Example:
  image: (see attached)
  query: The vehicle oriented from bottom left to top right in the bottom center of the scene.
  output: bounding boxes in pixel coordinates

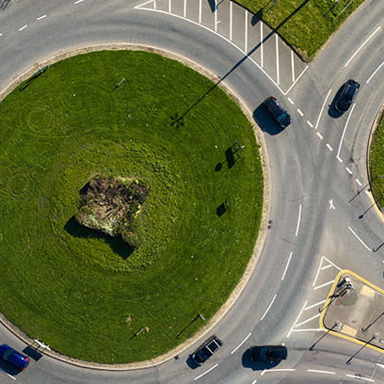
[188,331,224,368]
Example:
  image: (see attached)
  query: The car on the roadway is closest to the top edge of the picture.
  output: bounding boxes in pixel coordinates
[332,78,360,113]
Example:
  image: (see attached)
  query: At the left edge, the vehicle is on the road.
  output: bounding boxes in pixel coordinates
[0,345,31,370]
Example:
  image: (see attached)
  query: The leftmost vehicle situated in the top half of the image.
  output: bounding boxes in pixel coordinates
[260,98,290,130]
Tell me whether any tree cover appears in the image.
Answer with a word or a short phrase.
No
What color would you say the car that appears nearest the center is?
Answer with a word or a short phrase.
black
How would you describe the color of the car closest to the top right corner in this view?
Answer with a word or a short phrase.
black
